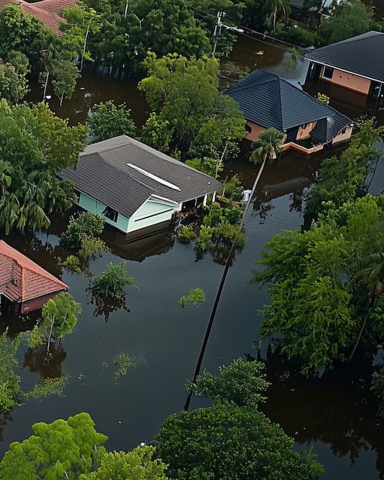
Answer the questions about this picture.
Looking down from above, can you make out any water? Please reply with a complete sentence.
Yes, water shows up in the scene.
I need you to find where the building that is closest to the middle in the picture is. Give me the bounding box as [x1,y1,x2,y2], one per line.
[58,133,223,235]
